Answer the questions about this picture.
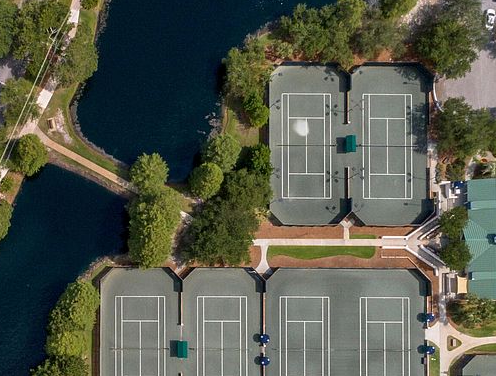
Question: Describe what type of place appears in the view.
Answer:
sports ground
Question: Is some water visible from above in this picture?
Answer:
Yes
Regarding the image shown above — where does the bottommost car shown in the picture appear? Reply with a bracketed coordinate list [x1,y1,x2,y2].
[484,9,496,31]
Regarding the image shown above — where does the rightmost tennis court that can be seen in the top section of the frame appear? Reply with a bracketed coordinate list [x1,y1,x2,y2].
[350,67,429,223]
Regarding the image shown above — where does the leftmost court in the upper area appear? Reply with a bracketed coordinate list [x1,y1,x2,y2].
[275,66,350,222]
